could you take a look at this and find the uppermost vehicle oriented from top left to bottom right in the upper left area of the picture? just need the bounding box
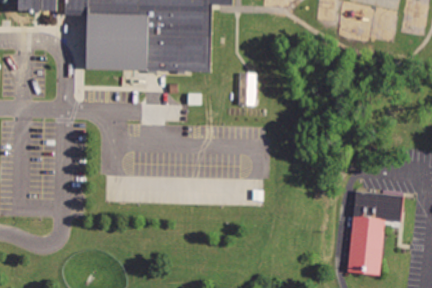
[3,54,18,71]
